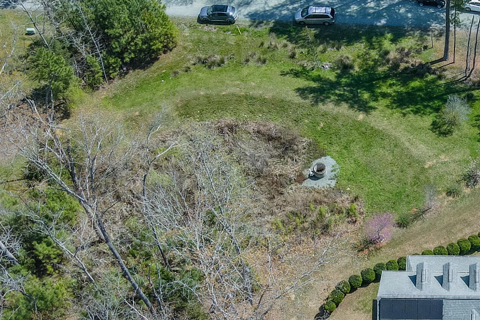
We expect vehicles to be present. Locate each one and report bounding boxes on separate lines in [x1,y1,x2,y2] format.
[293,2,336,24]
[461,0,480,13]
[414,0,442,8]
[197,4,238,24]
